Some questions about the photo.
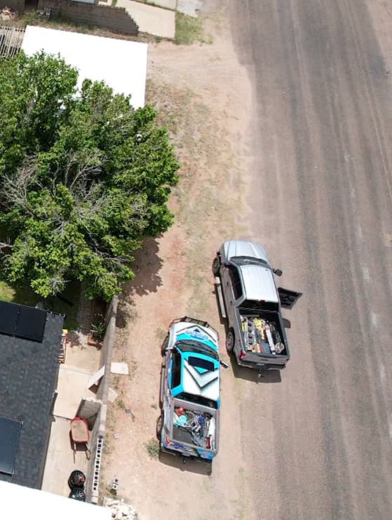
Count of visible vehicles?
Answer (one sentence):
I count 2 vehicles.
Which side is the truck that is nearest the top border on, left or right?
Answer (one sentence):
The truck that is nearest the top border is on the right side of the image.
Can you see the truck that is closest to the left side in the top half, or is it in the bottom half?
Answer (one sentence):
It is in the bottom half that the truck that is closest to the left side appears.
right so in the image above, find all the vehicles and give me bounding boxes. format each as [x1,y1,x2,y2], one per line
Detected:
[215,242,310,377]
[156,316,229,467]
